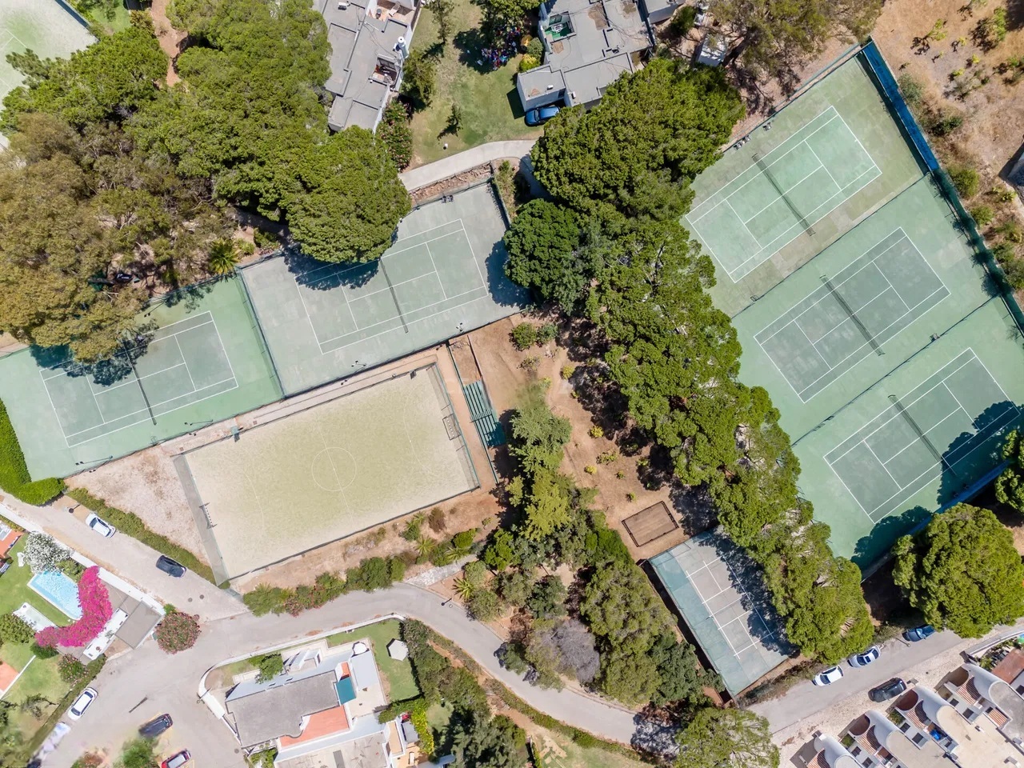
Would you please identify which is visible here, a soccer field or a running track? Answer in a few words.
soccer field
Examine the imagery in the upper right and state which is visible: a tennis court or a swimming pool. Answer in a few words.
tennis court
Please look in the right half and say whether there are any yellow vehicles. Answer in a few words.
No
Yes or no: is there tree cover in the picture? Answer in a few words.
Yes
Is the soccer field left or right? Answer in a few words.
left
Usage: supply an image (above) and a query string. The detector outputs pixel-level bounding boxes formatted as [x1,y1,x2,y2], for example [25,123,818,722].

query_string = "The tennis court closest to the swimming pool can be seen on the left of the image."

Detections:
[0,271,283,486]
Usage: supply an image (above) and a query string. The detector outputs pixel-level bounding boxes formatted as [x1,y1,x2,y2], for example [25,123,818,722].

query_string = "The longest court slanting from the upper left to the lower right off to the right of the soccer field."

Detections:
[647,524,792,695]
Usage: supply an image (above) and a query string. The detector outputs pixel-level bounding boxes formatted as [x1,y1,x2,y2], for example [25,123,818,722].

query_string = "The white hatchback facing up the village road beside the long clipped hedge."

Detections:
[86,511,118,539]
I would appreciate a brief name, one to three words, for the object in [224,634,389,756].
house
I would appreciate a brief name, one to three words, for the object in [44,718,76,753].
car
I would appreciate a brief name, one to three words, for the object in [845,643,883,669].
car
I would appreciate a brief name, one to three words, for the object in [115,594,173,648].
shed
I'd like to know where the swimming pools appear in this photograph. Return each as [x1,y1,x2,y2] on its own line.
[25,569,85,621]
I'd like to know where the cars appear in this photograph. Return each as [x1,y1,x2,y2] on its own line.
[526,106,559,127]
[155,552,188,580]
[811,664,844,687]
[900,620,937,644]
[69,684,100,719]
[845,643,883,669]
[161,746,193,768]
[86,511,118,539]
[44,718,76,753]
[867,675,907,702]
[139,709,177,738]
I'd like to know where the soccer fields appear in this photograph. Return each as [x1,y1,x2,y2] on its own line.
[175,364,480,585]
